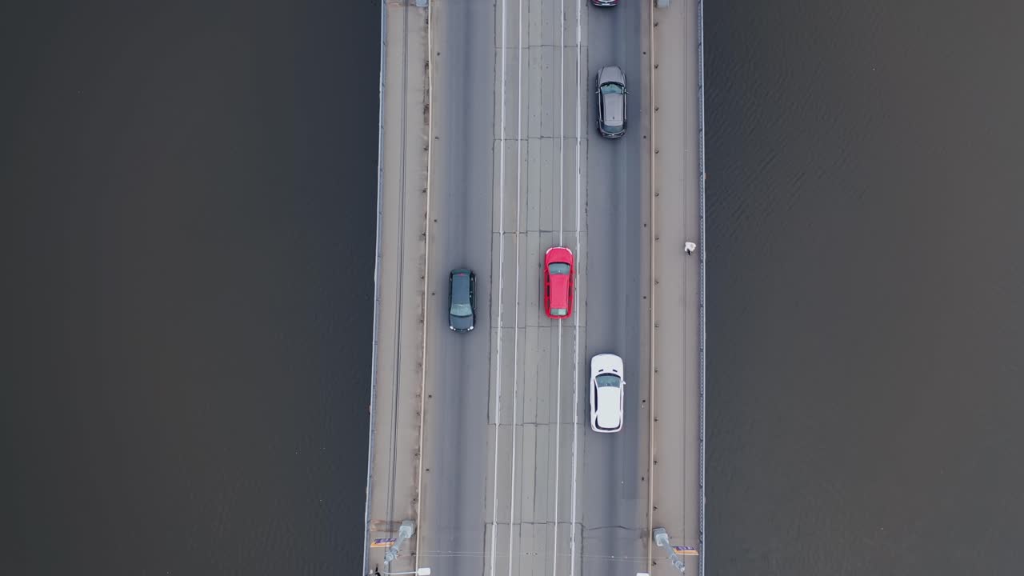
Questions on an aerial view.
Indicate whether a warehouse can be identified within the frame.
No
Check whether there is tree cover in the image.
No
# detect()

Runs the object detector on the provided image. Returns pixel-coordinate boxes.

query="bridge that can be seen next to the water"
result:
[364,0,703,576]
